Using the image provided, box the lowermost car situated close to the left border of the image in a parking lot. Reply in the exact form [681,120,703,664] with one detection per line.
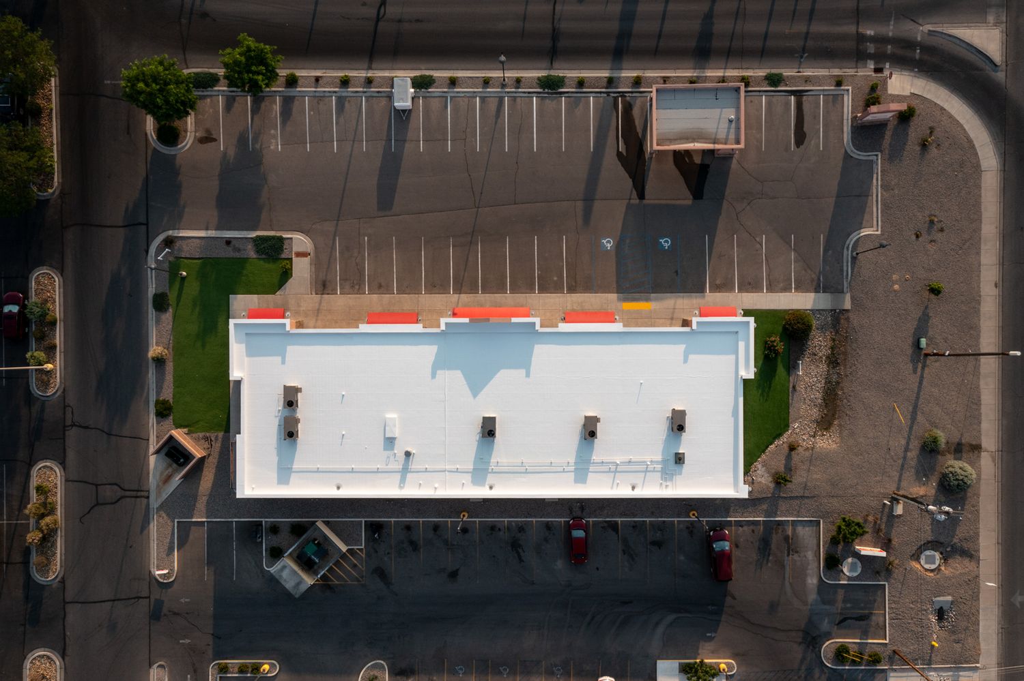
[1,292,27,341]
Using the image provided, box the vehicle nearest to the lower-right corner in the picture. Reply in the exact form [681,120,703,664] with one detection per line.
[707,526,733,581]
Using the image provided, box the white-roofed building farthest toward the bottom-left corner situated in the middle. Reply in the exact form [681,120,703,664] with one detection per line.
[229,306,757,501]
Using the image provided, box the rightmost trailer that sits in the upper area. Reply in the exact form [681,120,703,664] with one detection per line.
[393,79,417,124]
